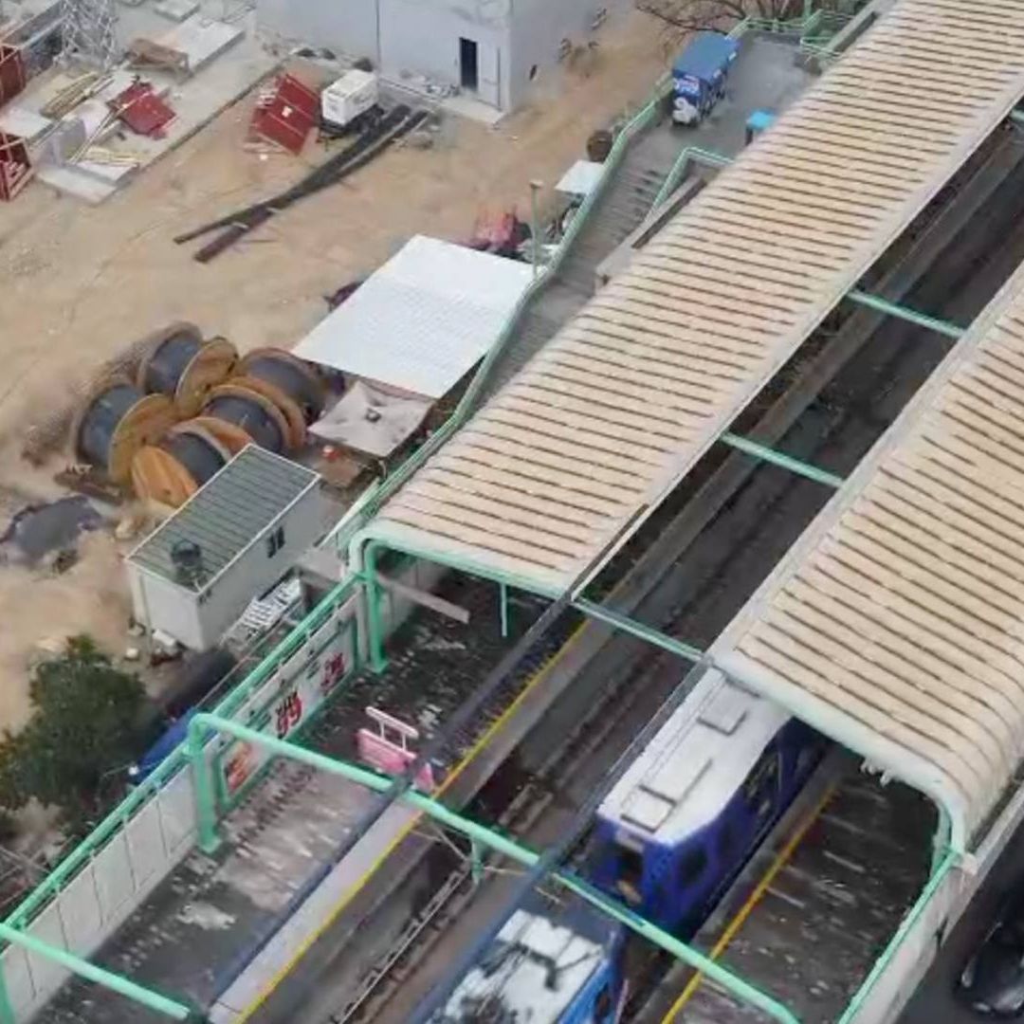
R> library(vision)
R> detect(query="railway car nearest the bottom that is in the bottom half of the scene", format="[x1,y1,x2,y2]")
[419,885,625,1024]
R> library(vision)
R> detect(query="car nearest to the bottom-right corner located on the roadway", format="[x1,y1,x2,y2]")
[965,865,1024,1006]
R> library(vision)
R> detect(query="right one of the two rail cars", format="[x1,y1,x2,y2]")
[596,664,832,937]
